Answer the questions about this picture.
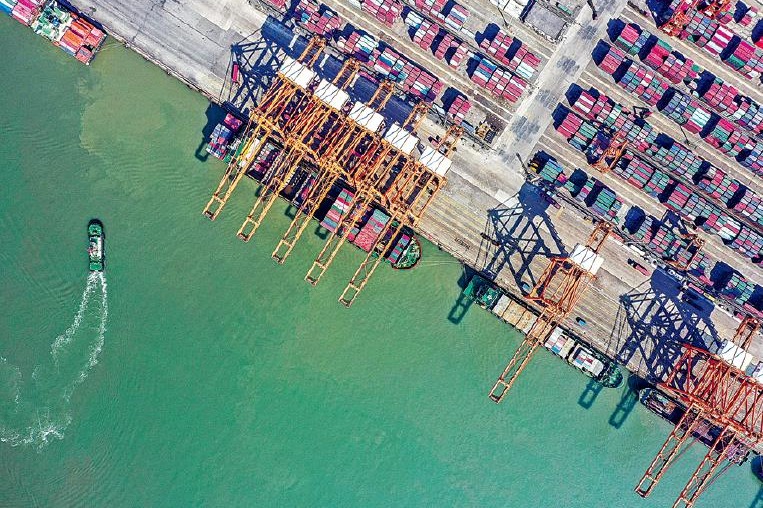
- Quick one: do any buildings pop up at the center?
No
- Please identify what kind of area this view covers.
port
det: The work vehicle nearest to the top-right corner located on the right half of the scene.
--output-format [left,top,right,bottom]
[641,107,666,124]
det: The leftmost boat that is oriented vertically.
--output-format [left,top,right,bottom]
[88,220,107,271]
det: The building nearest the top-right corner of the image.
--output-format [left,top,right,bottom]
[522,3,566,45]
